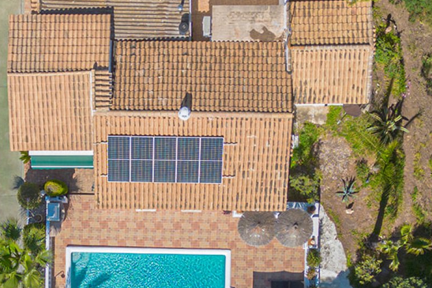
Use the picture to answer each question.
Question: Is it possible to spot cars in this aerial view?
No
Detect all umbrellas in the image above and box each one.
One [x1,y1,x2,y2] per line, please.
[270,203,314,247]
[236,206,276,248]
